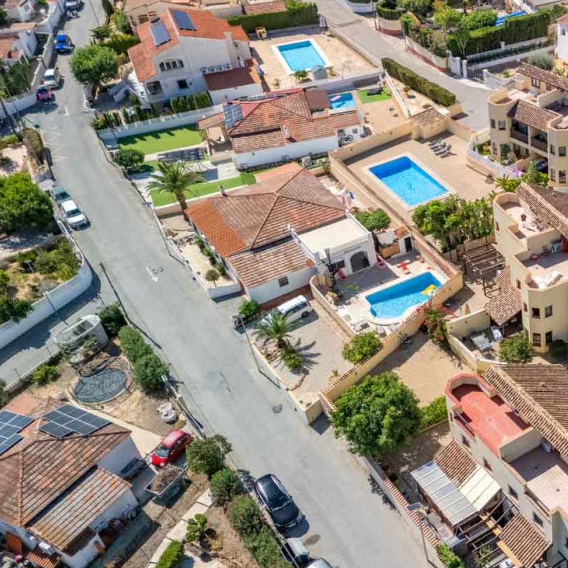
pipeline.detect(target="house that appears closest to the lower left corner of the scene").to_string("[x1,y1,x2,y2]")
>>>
[0,400,141,568]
